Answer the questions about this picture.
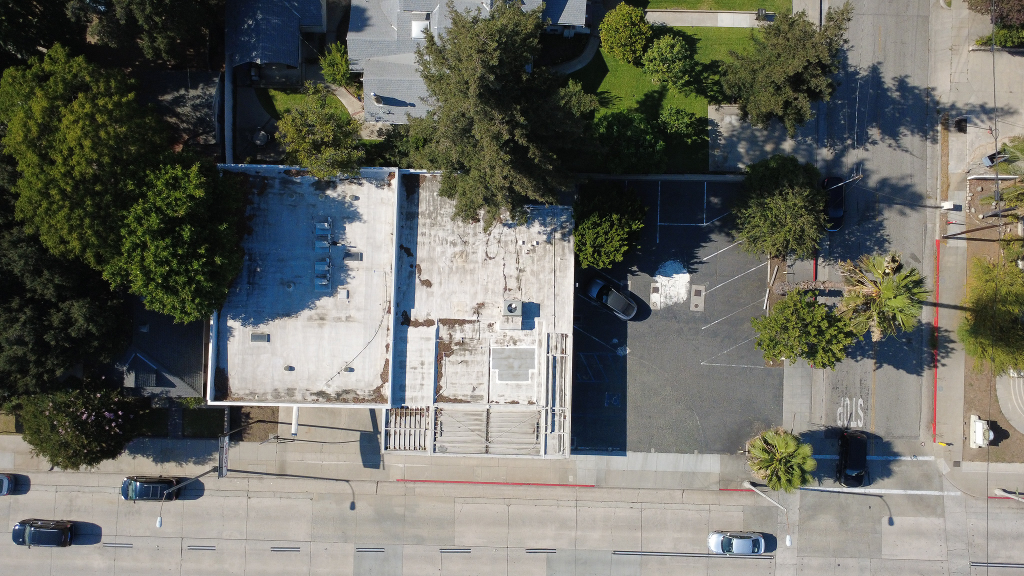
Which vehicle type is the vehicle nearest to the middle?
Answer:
automobile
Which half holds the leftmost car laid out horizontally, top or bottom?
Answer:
bottom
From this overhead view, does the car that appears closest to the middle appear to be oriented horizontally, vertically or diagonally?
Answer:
diagonally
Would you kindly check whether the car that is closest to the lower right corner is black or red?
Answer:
black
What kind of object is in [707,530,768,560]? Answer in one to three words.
car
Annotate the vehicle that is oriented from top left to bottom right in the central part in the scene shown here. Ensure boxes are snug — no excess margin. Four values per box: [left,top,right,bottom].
[582,277,637,326]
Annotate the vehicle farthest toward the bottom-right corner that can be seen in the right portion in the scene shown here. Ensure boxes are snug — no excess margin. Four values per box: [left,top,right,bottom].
[833,429,866,488]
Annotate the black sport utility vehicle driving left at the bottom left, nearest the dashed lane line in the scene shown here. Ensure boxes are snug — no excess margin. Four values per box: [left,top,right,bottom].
[11,518,75,550]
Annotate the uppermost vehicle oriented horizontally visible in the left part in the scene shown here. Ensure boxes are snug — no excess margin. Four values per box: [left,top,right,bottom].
[123,475,181,504]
